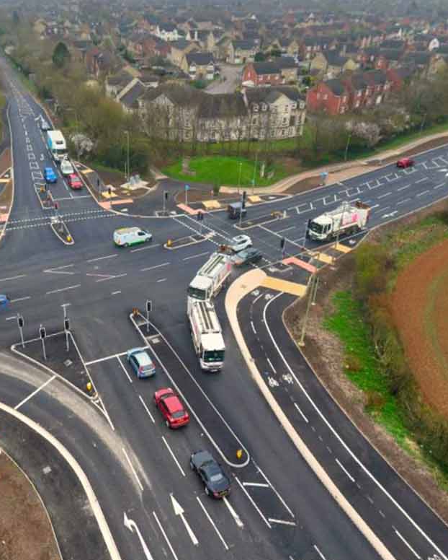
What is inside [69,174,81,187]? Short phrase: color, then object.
red vehicle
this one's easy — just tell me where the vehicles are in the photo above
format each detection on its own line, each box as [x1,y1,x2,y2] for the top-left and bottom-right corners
[188,290,226,363]
[395,157,414,168]
[126,349,154,379]
[226,234,256,252]
[189,246,233,300]
[310,204,367,242]
[61,160,73,174]
[154,391,190,430]
[115,228,149,246]
[39,118,48,128]
[46,130,65,160]
[69,174,81,187]
[223,202,248,220]
[233,248,263,265]
[189,452,234,504]
[45,168,57,180]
